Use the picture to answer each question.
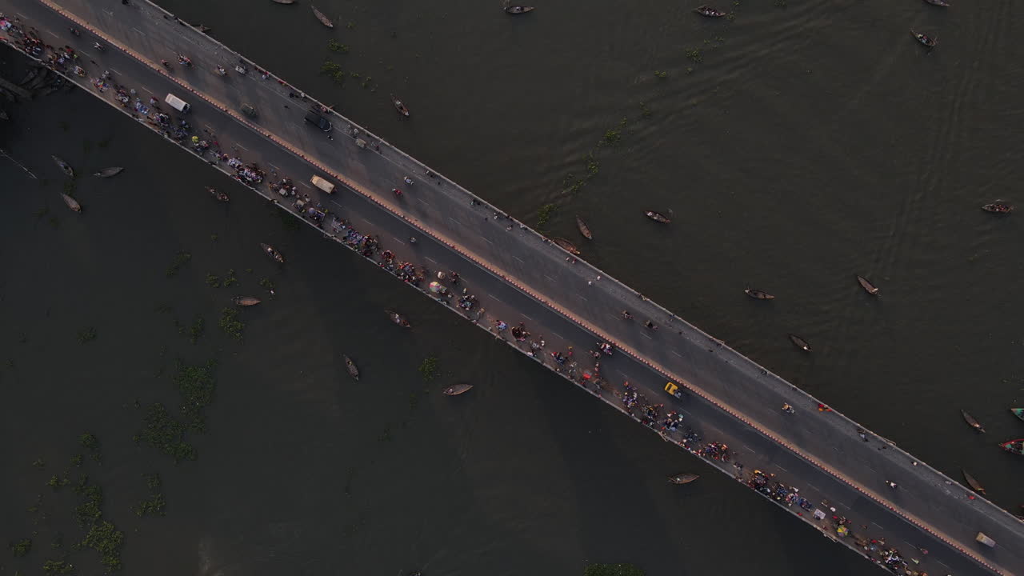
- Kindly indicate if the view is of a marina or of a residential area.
marina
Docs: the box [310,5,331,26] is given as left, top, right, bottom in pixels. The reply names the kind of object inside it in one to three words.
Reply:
boat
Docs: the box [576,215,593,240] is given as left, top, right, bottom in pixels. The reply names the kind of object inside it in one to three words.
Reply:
boat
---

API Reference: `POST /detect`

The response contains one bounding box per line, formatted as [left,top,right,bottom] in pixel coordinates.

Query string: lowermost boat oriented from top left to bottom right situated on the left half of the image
[342,355,359,382]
